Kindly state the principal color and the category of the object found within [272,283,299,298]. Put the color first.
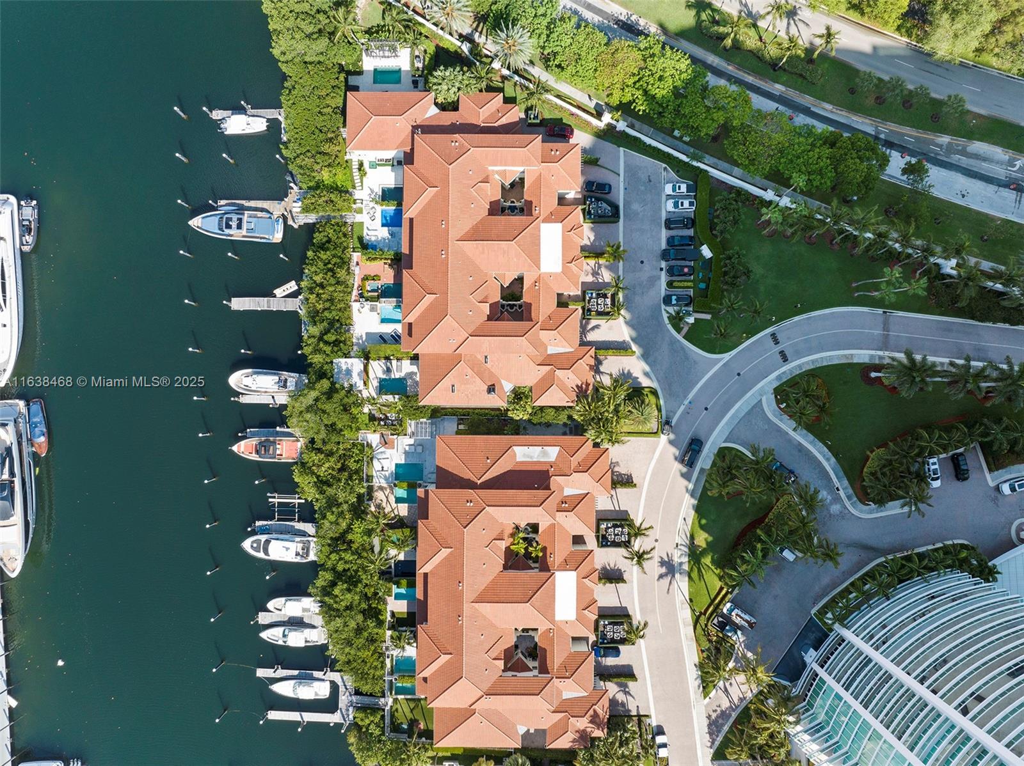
white boat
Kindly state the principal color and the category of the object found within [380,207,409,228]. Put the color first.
blue swimming pool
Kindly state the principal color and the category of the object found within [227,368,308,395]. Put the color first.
white boat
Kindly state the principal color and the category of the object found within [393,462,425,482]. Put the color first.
blue swimming pool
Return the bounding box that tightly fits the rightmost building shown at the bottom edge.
[782,574,1024,766]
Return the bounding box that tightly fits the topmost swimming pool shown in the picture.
[371,66,403,85]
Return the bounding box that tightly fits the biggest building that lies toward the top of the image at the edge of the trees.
[402,134,584,354]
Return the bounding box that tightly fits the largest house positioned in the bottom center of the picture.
[417,483,598,712]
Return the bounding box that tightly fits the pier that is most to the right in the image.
[353,692,386,708]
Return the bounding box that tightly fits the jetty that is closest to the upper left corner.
[211,109,283,136]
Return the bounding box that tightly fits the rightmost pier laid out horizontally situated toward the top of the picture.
[293,198,356,225]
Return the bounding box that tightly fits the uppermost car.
[546,125,574,140]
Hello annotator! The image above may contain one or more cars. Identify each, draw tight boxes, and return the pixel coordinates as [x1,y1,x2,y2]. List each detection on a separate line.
[922,456,941,487]
[666,264,693,278]
[681,436,700,468]
[721,601,757,631]
[666,197,695,212]
[660,247,698,262]
[707,616,739,643]
[546,125,574,140]
[996,478,1024,495]
[666,234,693,248]
[584,179,612,194]
[664,181,696,196]
[664,216,693,230]
[593,645,619,659]
[654,734,668,766]
[949,452,969,480]
[663,293,691,306]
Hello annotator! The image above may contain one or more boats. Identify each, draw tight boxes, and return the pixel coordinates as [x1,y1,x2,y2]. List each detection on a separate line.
[226,438,303,460]
[258,626,328,646]
[240,535,323,562]
[272,283,299,298]
[268,679,332,699]
[21,195,40,252]
[0,399,37,578]
[0,192,26,380]
[266,597,329,616]
[227,368,308,395]
[186,207,286,240]
[217,110,271,133]
[29,398,50,456]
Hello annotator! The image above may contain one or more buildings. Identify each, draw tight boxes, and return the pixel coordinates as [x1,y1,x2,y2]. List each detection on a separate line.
[782,574,1024,766]
[417,483,598,712]
[402,134,584,354]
